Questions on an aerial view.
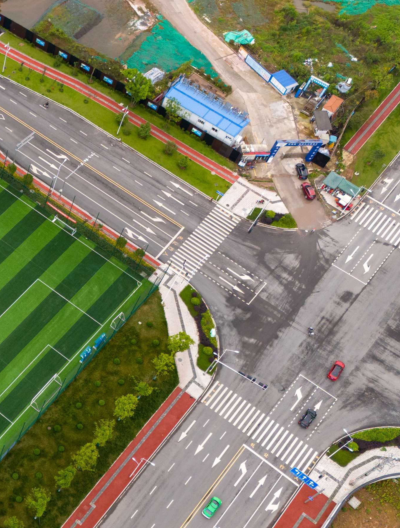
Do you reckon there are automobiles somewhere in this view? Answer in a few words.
Yes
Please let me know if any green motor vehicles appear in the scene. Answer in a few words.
Yes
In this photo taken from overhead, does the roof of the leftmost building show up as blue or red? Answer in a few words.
blue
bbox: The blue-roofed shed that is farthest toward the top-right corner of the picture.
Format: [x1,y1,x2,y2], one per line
[269,66,301,96]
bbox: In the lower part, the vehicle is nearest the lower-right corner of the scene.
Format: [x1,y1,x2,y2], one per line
[299,408,315,430]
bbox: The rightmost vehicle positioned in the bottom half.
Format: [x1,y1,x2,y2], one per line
[327,360,344,382]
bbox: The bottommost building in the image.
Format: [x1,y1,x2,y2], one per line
[236,145,268,160]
